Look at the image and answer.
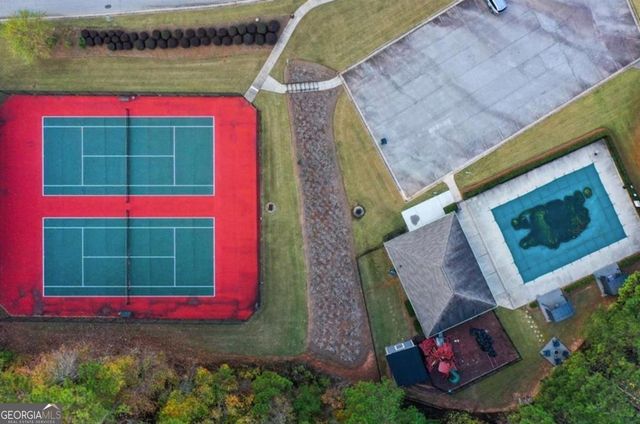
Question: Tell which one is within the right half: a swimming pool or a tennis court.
swimming pool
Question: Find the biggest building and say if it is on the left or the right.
right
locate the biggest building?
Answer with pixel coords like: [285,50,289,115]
[384,212,498,338]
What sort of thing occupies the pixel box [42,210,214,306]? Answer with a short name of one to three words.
tennis court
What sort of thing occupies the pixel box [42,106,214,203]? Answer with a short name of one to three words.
tennis court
